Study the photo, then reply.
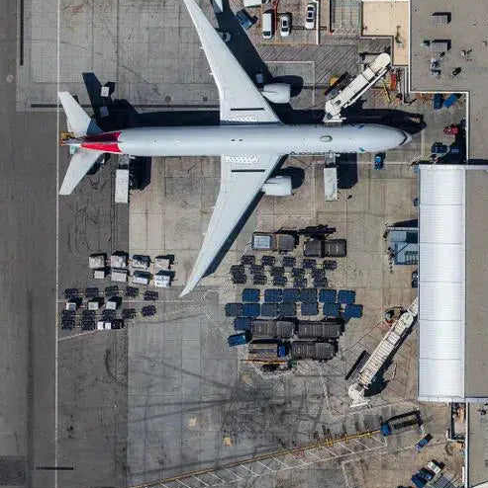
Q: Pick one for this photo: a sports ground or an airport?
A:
airport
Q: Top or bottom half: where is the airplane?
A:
top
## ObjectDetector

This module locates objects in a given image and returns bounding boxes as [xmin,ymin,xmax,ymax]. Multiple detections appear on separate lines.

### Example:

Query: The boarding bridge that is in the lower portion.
[345,296,418,410]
